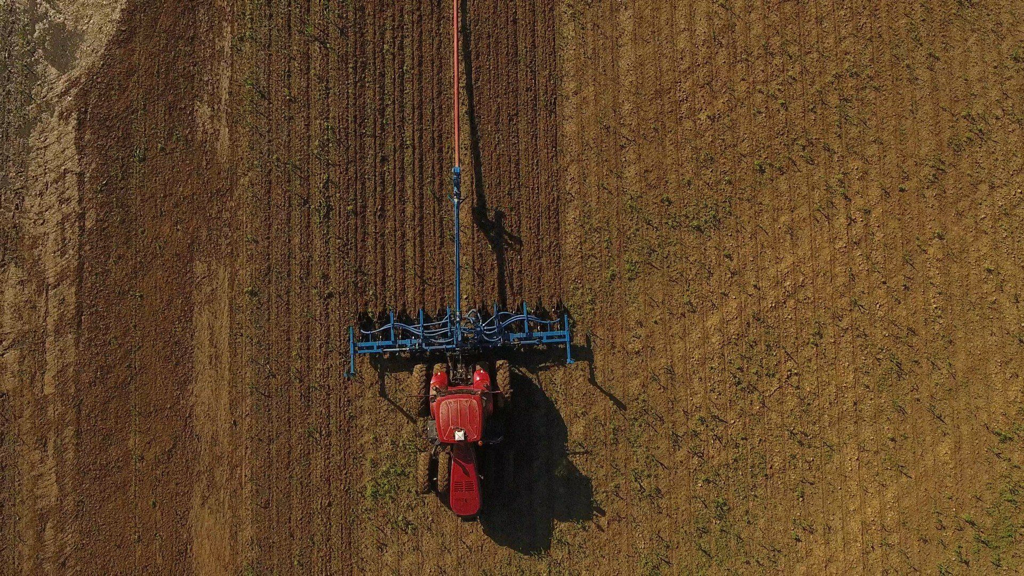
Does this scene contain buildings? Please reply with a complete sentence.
No, no building is visible in the scene.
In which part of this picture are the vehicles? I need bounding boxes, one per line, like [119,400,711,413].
[413,350,512,521]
